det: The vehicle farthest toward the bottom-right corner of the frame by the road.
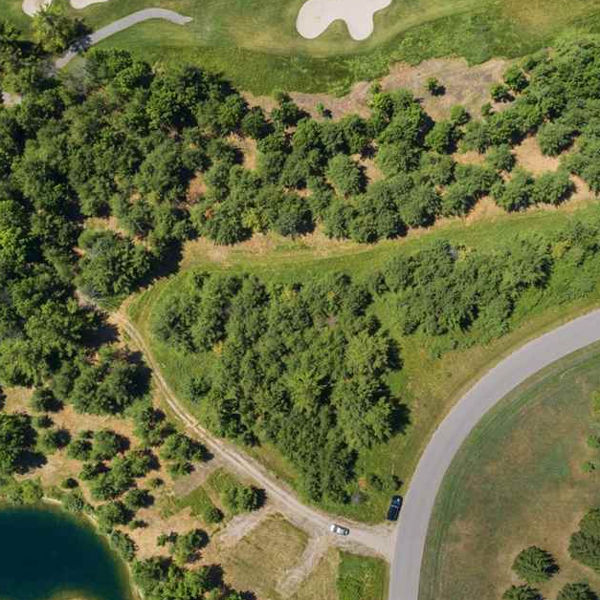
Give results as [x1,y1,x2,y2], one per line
[386,494,403,522]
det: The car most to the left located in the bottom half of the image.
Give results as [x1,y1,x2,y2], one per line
[330,522,349,535]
